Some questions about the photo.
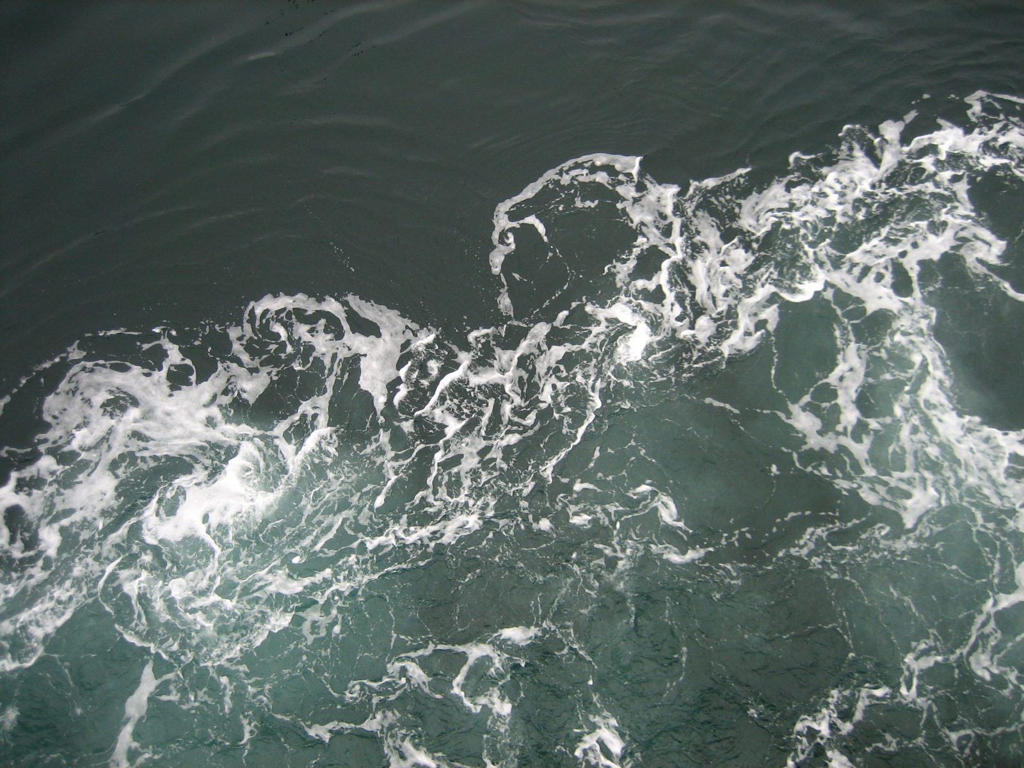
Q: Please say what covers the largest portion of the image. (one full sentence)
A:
The bulk of the photo consists of water.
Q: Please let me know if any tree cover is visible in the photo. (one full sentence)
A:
No, there is no tree cover in the image.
